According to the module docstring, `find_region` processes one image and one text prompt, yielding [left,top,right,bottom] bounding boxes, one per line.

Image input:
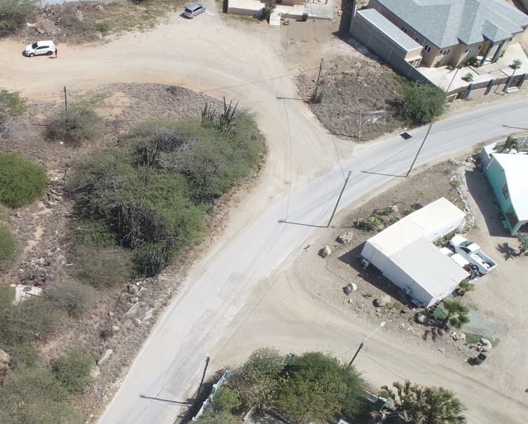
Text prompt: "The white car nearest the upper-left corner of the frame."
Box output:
[23,39,56,58]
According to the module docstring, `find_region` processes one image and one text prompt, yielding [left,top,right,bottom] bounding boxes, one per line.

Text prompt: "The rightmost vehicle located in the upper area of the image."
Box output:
[181,2,208,20]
